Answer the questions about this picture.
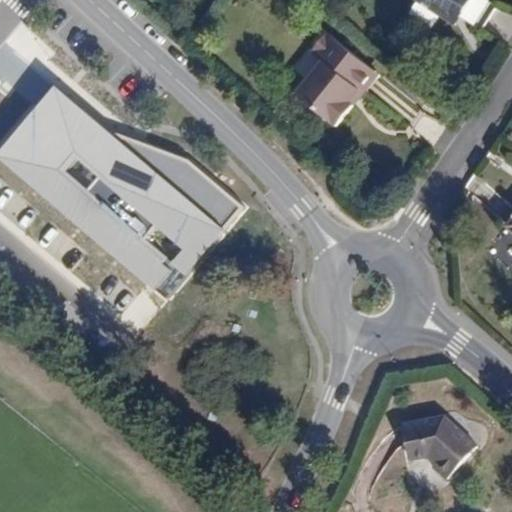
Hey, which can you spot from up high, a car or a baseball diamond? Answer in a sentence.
Looking from above, you can make out a car.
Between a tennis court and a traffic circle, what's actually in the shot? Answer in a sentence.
Of the two, only a traffic circle appears.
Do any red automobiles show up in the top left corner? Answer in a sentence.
Yes, a red automobile can be seen in the top left corner.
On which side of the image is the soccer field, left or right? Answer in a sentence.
The soccer field is on the left side of the image.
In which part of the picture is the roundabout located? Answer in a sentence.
You can find the roundabout in the right area of the picture.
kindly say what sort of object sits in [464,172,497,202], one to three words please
building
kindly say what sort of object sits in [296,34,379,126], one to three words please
house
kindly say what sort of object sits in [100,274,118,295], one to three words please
car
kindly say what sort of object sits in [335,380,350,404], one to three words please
car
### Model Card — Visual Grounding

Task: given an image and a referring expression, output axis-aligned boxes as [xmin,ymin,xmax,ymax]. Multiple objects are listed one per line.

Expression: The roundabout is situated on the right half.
[312,230,436,356]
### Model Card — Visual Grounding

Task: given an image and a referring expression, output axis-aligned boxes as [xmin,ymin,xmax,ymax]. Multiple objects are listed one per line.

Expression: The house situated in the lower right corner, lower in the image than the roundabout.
[400,414,478,480]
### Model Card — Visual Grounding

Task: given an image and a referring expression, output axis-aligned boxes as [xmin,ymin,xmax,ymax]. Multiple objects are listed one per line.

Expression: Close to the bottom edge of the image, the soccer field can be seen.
[0,399,142,512]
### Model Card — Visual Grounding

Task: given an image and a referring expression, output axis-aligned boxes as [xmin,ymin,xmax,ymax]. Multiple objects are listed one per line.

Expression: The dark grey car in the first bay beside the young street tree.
[50,9,66,30]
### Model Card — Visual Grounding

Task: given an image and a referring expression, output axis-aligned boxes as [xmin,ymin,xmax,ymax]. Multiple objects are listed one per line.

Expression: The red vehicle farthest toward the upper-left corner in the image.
[120,77,138,98]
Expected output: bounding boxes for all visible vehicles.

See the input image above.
[168,45,188,66]
[145,25,165,44]
[114,287,132,308]
[50,9,66,30]
[100,274,118,295]
[120,77,138,98]
[116,0,136,17]
[62,246,81,268]
[0,188,14,208]
[335,380,350,404]
[66,28,86,50]
[17,206,35,227]
[38,226,56,246]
